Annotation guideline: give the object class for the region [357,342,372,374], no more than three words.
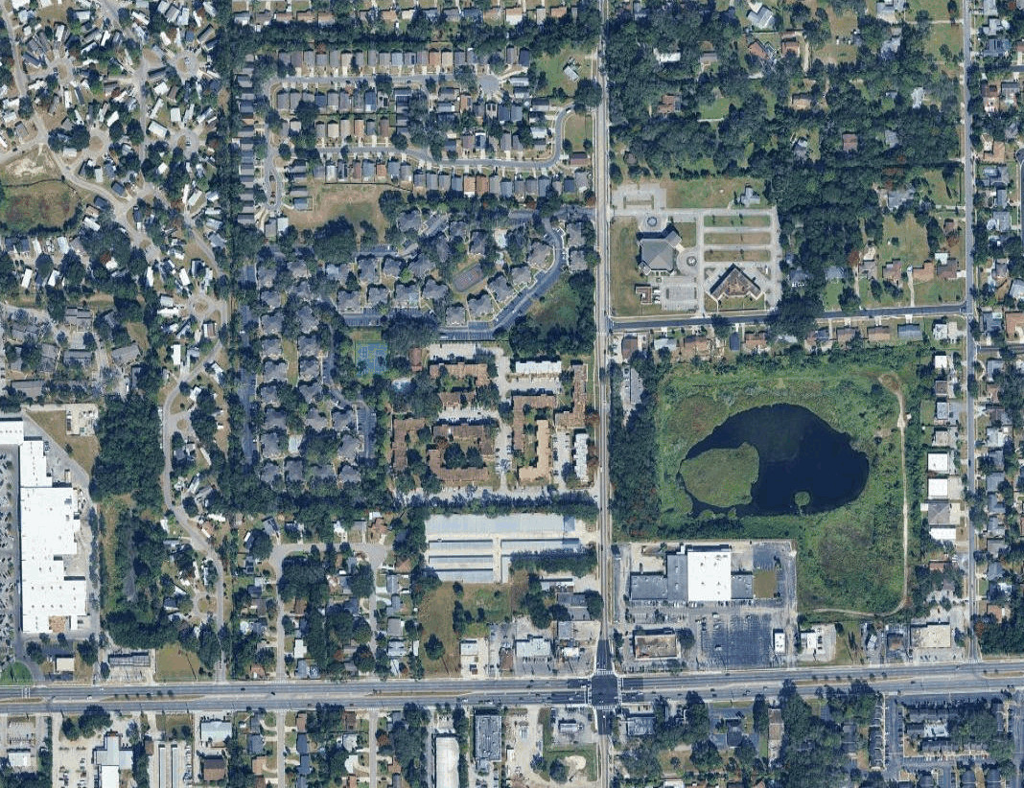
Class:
tennis court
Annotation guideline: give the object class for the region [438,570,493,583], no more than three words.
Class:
building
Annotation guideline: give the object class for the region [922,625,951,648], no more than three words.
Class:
building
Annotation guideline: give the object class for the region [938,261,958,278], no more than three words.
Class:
house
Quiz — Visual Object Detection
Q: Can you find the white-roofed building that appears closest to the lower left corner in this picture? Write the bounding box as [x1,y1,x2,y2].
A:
[8,753,31,767]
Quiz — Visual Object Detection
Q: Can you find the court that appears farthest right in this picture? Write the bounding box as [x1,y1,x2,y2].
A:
[451,263,485,293]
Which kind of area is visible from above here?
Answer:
residential area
